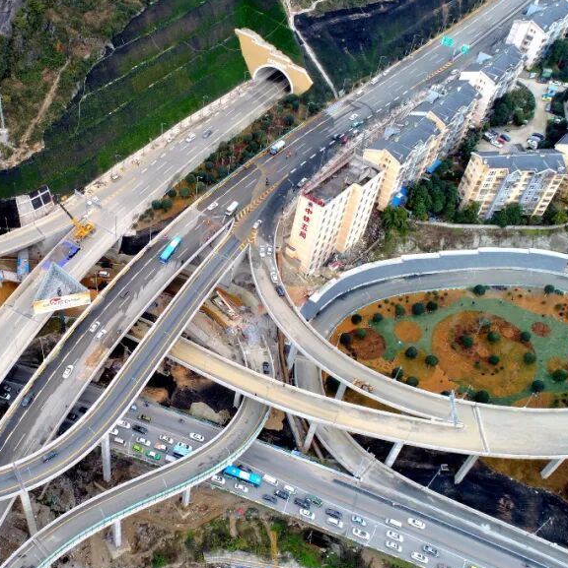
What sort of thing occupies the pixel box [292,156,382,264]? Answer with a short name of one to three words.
building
